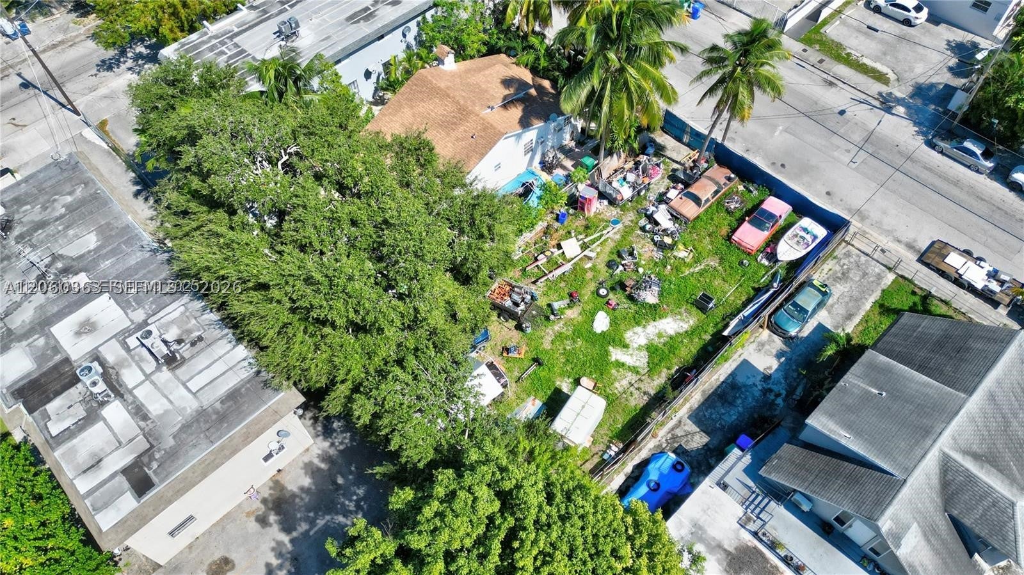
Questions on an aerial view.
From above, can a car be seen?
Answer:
Yes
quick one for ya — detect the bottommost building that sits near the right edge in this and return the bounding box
[762,307,1024,575]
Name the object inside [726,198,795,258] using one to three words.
car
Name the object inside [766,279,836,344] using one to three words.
car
